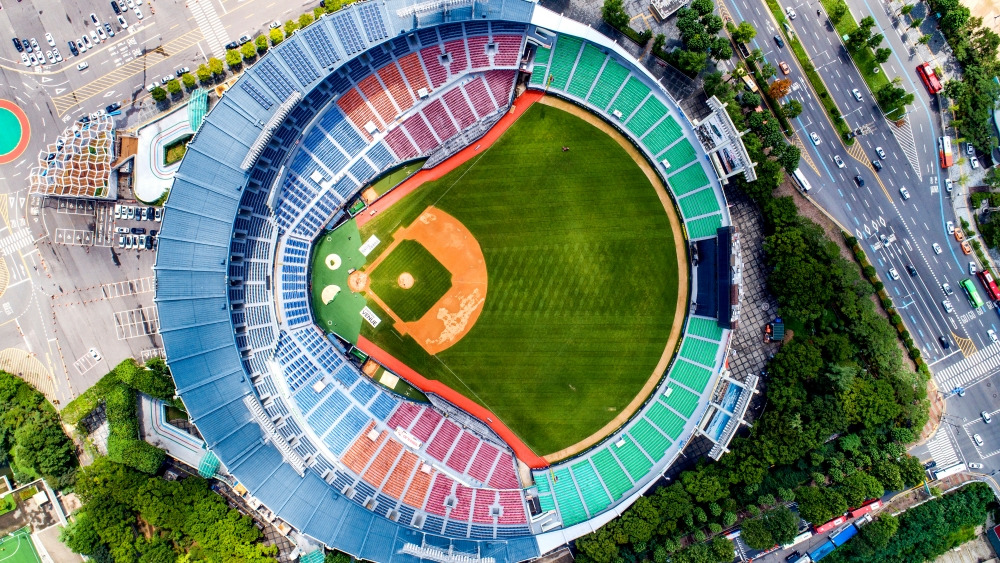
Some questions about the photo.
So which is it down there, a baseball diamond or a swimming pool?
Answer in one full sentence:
The one in the frame is a baseball diamond.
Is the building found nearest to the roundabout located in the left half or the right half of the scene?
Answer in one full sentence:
The building found nearest to the roundabout is on the left side of the image.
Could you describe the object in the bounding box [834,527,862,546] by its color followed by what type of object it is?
blue vehicle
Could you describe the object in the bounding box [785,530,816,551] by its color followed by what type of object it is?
white bus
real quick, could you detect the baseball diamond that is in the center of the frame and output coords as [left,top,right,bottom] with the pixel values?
[311,88,688,469]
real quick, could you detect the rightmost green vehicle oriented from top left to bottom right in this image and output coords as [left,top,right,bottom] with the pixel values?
[962,278,986,306]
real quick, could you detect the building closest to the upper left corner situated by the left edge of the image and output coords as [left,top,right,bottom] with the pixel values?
[28,111,113,197]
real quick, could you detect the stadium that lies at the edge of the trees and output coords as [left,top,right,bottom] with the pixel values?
[151,0,737,563]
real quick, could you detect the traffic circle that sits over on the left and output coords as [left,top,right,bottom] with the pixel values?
[0,109,21,153]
